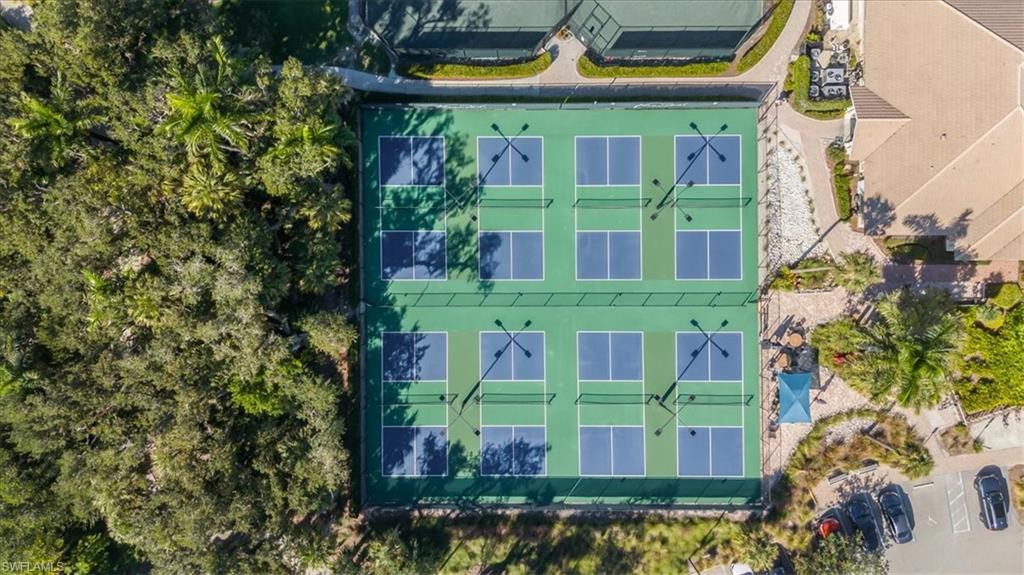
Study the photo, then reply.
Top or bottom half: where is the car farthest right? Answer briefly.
bottom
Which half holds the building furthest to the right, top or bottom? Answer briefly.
top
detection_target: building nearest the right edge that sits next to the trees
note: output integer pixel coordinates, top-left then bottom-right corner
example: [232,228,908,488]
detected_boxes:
[839,0,1024,261]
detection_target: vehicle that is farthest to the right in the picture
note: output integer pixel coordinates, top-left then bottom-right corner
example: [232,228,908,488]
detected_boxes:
[975,473,1012,531]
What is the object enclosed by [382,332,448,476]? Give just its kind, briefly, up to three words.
sports court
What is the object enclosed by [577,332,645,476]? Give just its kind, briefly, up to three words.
sports court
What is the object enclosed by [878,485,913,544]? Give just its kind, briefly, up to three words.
car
